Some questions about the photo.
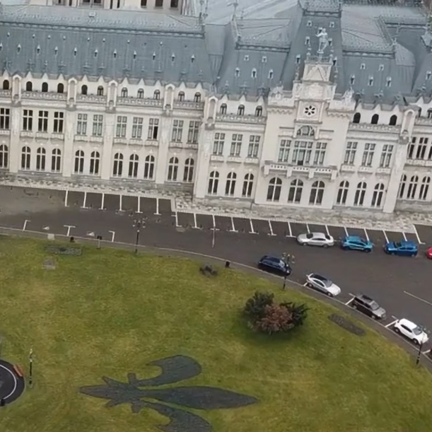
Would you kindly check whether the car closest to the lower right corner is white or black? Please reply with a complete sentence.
From above, the car closest to the lower right corner appears white.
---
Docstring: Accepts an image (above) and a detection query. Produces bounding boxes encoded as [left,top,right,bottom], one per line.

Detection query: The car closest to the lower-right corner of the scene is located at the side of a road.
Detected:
[393,320,431,345]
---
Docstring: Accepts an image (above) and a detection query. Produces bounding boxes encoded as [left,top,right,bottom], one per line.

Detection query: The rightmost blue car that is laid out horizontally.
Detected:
[384,241,421,259]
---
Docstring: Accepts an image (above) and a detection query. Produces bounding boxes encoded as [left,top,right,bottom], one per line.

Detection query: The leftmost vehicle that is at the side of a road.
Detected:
[256,256,294,276]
